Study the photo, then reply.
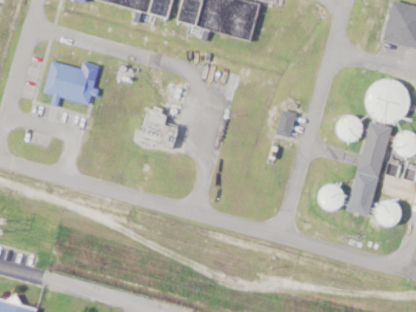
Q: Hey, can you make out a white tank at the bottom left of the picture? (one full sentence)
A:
No, looking at the bottom left of the picture, there is no white tank.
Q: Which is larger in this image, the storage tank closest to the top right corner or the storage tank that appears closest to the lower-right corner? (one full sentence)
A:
It is the storage tank closest to the top right corner that is larger, not the storage tank that appears closest to the lower-right corner.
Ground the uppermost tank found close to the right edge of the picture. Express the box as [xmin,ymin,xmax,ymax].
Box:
[364,78,411,124]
